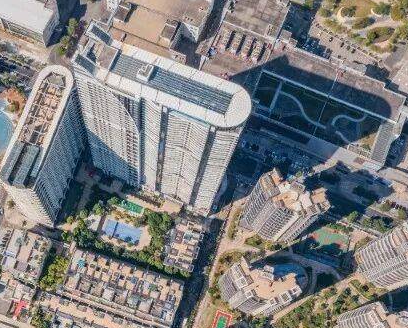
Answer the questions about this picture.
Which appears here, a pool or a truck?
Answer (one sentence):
Of the two, only a pool appears.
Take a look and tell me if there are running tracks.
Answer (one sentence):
No, I can see no running track in this picture.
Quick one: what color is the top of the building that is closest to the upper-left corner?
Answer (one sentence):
The roof over the building that is closest to the upper-left corner appears white.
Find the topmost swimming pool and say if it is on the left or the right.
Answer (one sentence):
The topmost swimming pool is on the left side of the image.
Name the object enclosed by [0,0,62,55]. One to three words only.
building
